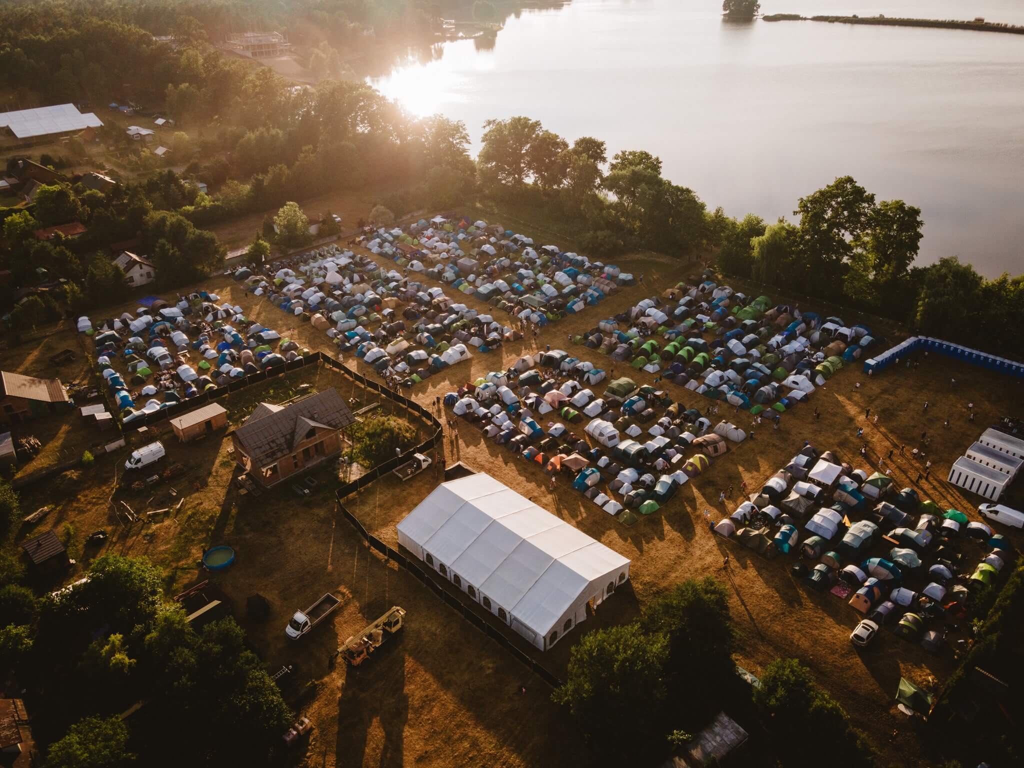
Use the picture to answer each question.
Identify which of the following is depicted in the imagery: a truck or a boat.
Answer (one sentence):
The one in the frame is a truck.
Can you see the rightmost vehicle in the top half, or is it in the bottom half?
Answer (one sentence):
The rightmost vehicle is in the bottom half of the image.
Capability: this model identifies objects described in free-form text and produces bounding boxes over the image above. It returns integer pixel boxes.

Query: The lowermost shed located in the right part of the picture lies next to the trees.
[680,699,755,768]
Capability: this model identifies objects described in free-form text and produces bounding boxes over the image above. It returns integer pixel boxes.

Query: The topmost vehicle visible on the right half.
[985,502,1024,528]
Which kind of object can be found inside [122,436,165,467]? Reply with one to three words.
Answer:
van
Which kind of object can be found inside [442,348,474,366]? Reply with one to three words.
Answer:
tent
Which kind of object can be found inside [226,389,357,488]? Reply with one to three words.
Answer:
house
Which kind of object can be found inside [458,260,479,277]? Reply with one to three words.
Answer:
gazebo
